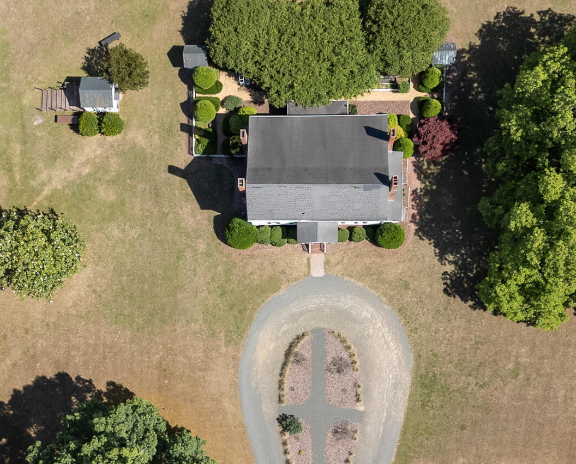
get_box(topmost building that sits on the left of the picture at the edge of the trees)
[183,46,209,72]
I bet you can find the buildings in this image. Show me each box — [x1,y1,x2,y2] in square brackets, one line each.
[77,78,118,111]
[238,100,404,255]
[431,43,457,70]
[183,46,209,72]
